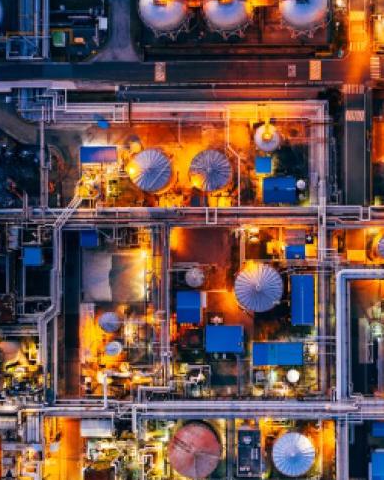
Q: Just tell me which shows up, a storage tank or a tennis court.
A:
storage tank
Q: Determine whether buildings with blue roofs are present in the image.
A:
Yes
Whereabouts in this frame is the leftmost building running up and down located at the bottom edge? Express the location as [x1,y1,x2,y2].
[238,427,260,478]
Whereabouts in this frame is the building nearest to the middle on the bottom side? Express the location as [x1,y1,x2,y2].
[176,290,200,324]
